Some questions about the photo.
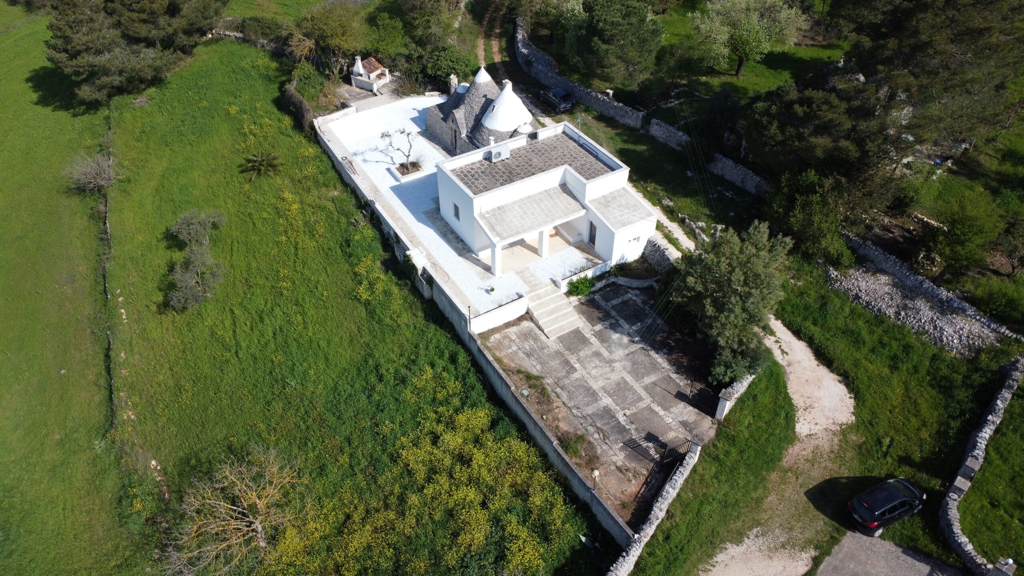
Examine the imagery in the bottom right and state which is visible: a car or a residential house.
car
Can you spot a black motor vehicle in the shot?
Yes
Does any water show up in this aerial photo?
No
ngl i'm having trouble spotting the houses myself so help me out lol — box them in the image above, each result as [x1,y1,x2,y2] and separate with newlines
[437,122,660,276]
[350,45,400,92]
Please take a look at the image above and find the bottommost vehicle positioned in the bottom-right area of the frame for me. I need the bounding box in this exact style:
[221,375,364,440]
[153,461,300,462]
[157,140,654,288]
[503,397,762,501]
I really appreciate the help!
[844,472,929,536]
